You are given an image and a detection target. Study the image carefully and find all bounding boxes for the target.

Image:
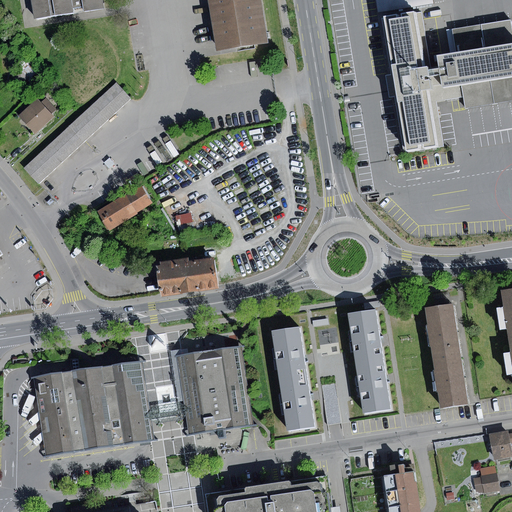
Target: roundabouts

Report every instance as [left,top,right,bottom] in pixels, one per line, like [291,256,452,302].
[306,218,394,296]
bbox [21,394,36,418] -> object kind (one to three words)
vehicle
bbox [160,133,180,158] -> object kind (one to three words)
truck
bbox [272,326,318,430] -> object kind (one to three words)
building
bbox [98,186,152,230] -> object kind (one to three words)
house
